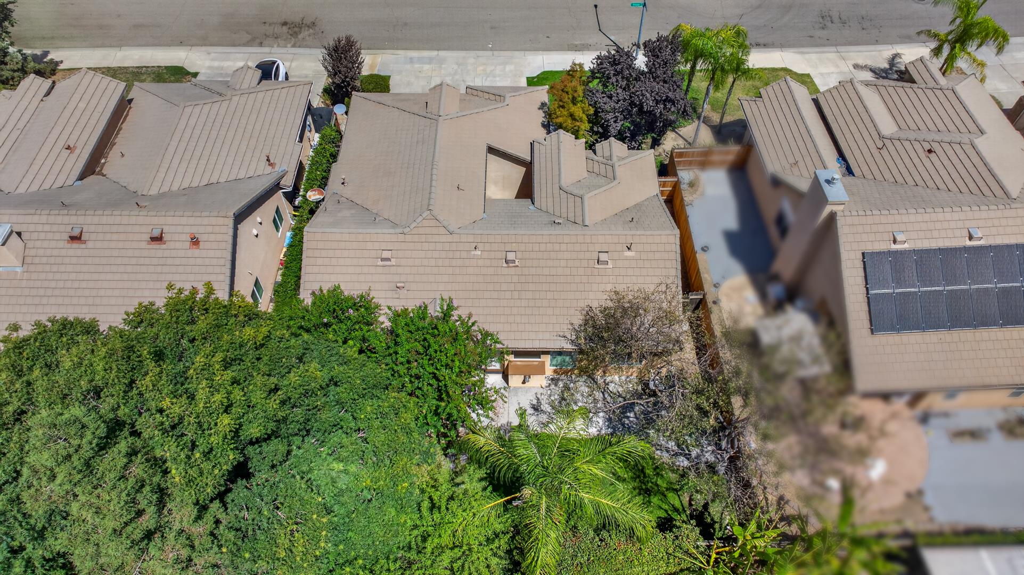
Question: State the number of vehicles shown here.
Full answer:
The count comes to 1 vehicle.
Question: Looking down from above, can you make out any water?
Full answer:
No, there is no water in the image.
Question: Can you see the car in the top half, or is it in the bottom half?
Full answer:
You can find the car in the top half.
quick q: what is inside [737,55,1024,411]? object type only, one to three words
house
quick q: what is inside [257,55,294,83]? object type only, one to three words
car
